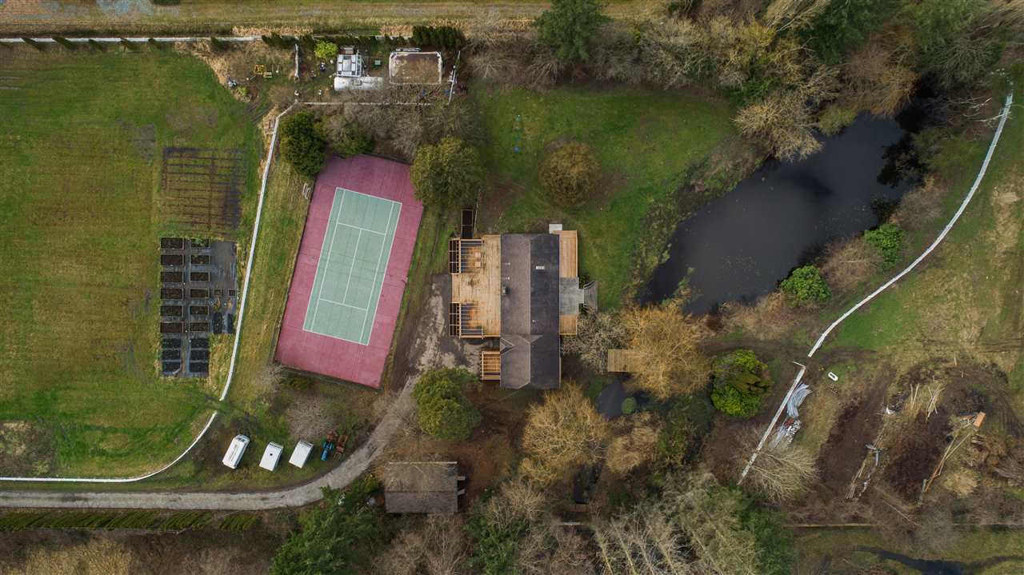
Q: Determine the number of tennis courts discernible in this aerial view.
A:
1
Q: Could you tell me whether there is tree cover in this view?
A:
Yes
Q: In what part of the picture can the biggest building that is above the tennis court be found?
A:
top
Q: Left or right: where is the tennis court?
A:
left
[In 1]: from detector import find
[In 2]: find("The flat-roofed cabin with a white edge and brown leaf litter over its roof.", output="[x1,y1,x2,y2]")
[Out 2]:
[390,52,442,89]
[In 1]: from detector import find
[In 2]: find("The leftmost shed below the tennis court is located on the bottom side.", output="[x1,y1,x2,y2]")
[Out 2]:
[384,461,466,513]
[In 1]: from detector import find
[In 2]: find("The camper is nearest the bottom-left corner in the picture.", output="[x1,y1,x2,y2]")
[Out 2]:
[226,428,253,468]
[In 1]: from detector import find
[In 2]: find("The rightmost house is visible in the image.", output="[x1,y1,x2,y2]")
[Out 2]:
[500,234,561,389]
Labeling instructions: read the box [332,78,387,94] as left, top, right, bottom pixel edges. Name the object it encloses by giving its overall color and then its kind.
white trailer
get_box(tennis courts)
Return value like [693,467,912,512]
[275,147,425,389]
